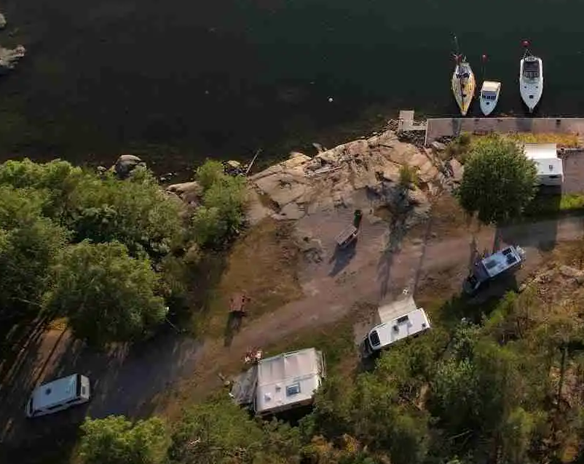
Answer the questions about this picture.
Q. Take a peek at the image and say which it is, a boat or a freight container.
boat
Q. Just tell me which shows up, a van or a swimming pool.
van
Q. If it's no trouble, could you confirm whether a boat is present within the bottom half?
No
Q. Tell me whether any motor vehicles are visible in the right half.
Yes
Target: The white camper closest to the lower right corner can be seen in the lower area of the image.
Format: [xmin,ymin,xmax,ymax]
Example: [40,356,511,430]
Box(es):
[367,295,435,359]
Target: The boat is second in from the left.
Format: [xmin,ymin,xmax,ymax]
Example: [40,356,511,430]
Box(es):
[479,81,501,117]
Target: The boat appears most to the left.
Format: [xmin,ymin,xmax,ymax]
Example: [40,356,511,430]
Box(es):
[447,35,476,117]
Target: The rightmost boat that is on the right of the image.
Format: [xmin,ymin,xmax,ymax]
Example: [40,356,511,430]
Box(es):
[518,47,544,114]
